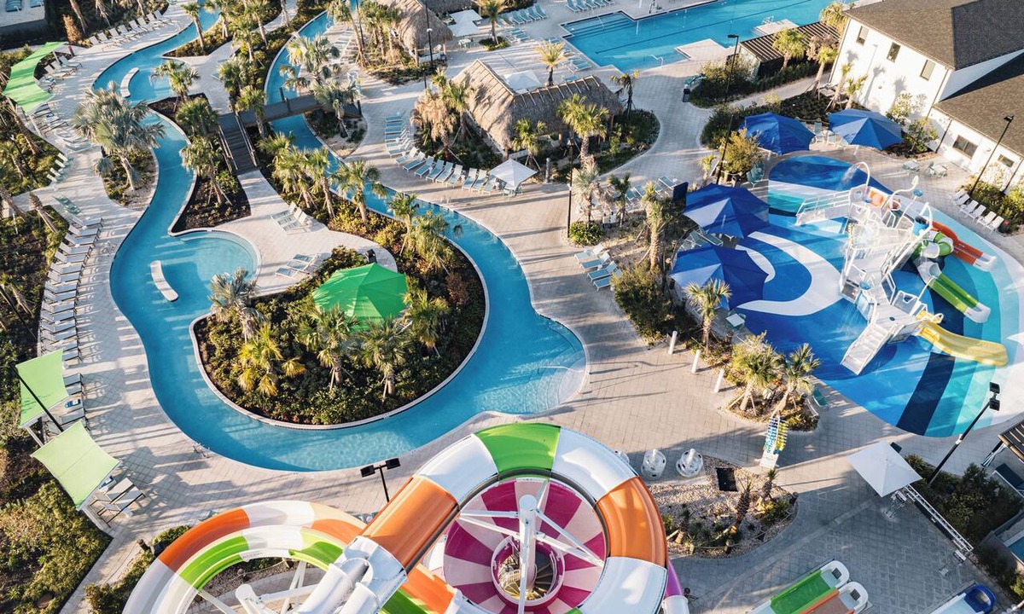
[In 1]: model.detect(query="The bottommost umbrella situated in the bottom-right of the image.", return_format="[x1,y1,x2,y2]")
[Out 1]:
[846,440,922,502]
